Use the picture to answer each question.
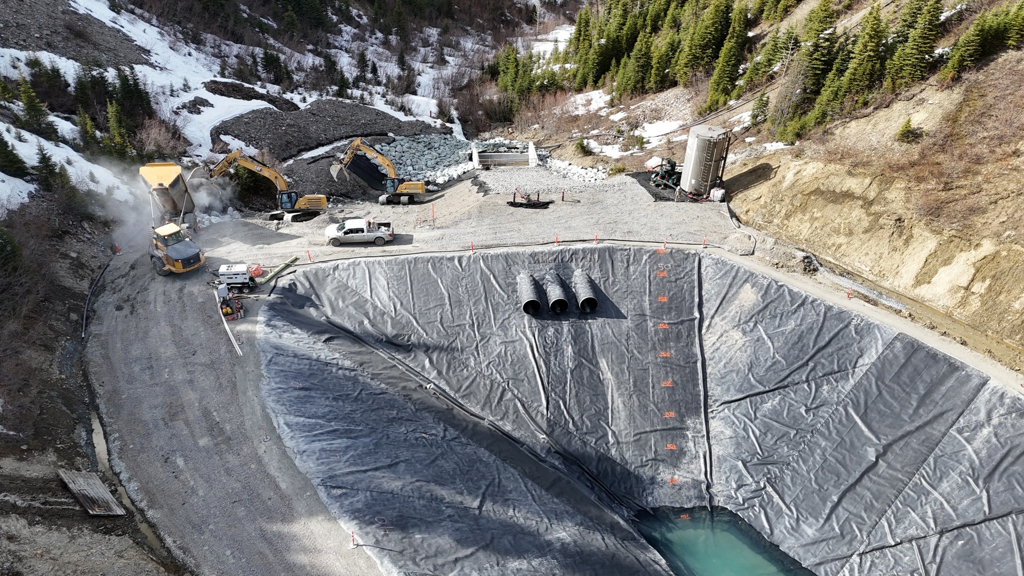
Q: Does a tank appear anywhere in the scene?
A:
Yes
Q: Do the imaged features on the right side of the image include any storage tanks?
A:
Yes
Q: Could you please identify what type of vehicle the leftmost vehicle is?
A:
truck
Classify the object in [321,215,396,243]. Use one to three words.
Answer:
truck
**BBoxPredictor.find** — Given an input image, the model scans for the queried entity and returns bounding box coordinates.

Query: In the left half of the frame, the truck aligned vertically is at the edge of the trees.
[138,152,206,277]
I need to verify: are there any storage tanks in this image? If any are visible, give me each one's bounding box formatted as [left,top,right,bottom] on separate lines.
[680,123,734,196]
